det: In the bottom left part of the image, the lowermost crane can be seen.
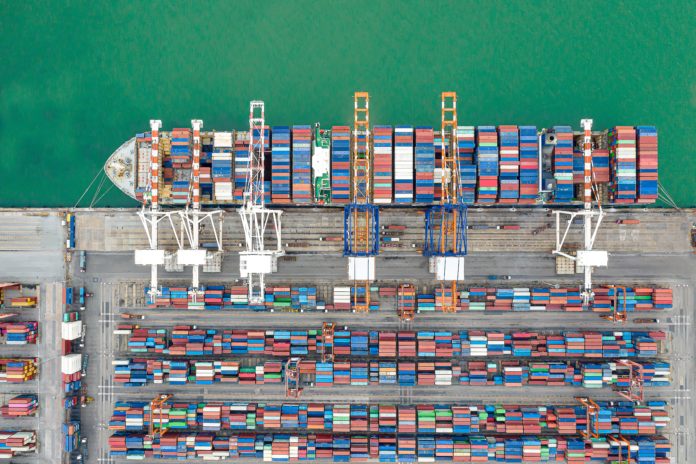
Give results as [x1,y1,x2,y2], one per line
[150,389,178,438]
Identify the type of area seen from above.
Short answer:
port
